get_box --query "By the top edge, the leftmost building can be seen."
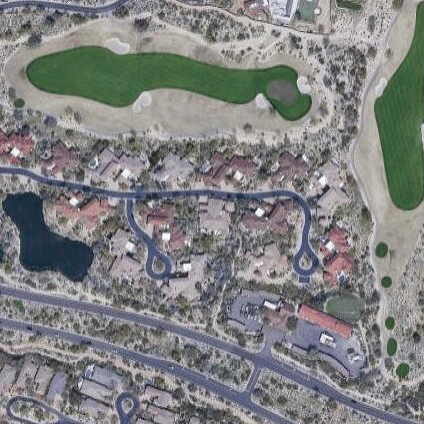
[244,0,270,20]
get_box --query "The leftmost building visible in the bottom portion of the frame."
[0,362,17,394]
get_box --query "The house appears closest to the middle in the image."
[197,195,235,234]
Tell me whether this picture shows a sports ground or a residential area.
residential area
